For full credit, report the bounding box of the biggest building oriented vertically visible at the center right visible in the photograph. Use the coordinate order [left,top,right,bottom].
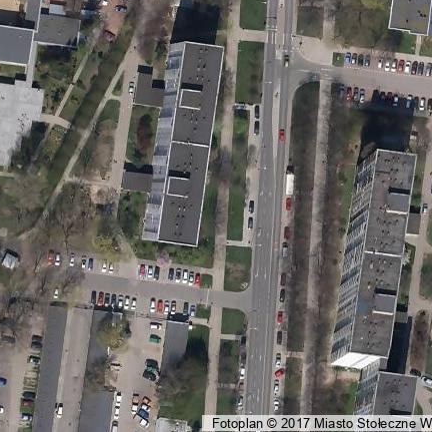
[331,149,417,365]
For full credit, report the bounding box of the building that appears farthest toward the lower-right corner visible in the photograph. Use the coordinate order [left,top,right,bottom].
[353,371,417,432]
